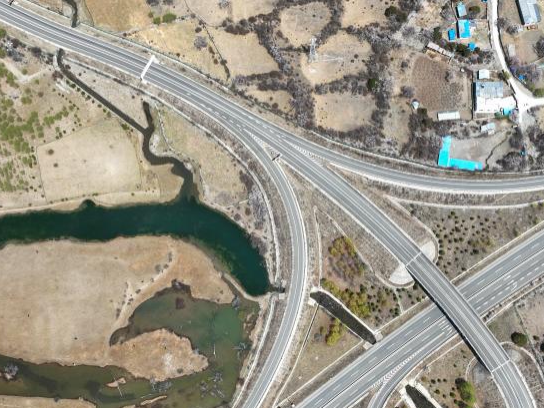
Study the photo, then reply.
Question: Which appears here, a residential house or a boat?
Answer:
residential house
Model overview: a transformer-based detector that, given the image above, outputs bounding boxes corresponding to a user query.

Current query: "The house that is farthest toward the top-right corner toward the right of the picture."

[516,0,541,26]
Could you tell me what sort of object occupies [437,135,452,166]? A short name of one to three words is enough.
house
